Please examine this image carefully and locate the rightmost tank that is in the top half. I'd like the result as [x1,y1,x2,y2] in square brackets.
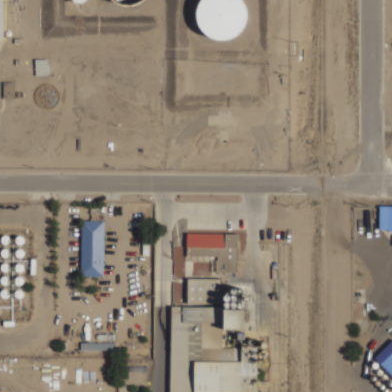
[196,0,248,42]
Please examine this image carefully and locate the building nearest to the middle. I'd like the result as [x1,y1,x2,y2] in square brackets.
[186,234,237,274]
